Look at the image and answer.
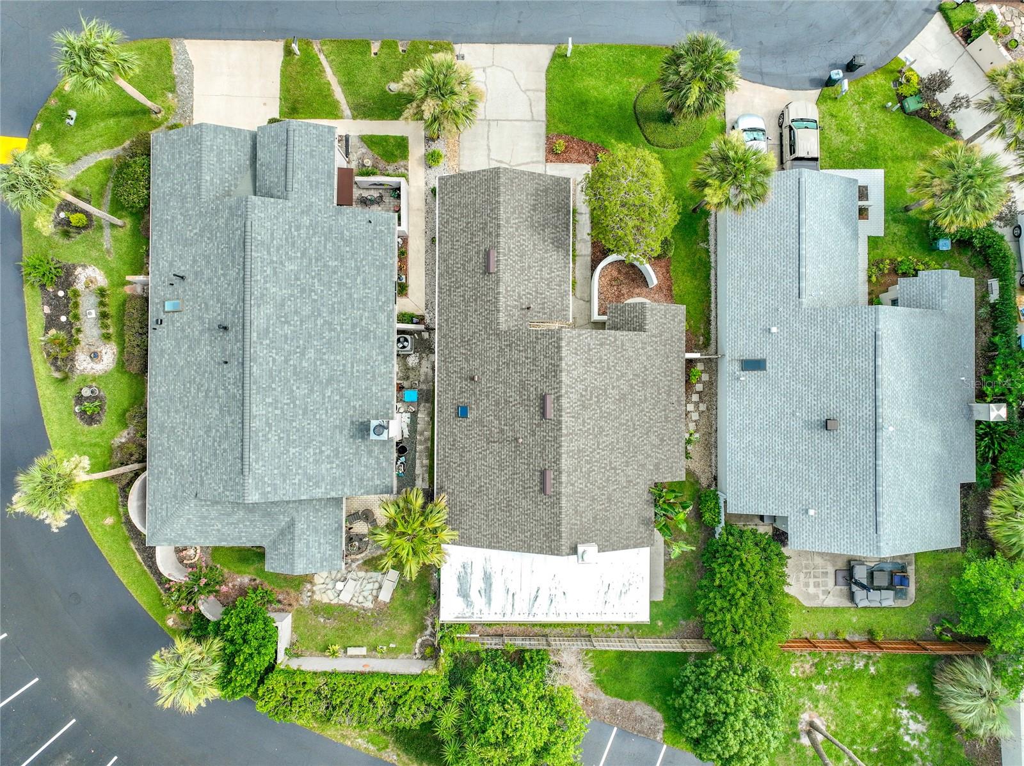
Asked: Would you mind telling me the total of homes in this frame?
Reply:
3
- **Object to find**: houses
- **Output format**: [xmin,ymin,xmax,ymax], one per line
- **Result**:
[433,167,685,623]
[718,169,1007,556]
[145,120,406,575]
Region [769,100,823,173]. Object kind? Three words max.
truck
